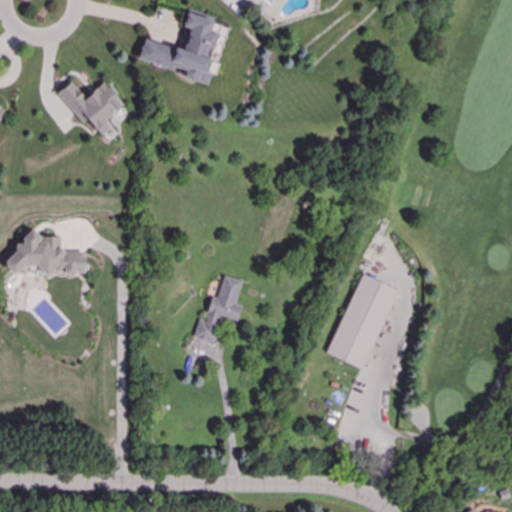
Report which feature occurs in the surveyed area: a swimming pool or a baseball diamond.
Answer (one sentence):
The one in the frame is a swimming pool.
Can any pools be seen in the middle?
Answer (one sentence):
No, there is no pool in the middle.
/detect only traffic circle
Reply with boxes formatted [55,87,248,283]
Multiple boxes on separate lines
[0,0,87,46]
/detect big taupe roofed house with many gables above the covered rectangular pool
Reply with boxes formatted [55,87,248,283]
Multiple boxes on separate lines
[2,230,90,278]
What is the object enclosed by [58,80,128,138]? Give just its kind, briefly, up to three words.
house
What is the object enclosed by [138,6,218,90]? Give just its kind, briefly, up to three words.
house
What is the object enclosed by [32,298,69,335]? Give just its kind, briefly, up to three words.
swimming pool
